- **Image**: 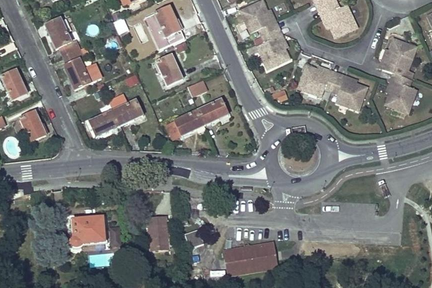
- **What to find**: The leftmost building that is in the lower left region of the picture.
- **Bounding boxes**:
[68,210,107,254]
